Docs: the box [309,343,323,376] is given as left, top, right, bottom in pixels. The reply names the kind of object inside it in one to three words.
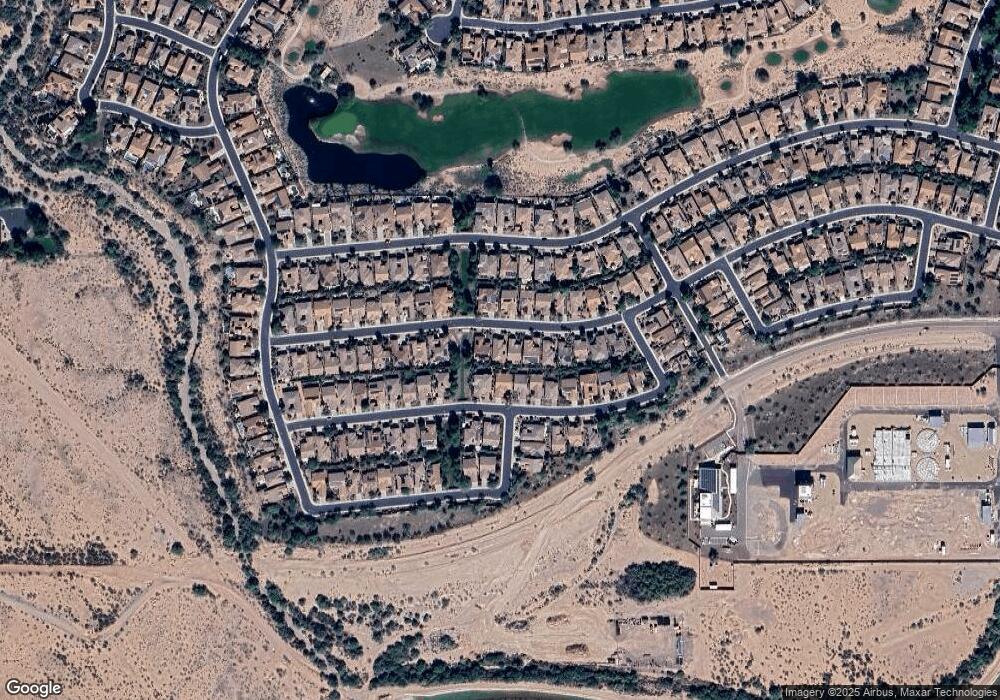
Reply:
house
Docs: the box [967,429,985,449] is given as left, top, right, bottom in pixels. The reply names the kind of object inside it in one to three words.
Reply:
shed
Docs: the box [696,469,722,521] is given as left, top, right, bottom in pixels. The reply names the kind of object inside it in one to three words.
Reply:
building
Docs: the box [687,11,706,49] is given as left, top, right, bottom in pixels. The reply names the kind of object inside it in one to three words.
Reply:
house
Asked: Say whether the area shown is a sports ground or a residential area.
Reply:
residential area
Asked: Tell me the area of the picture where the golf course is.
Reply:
top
